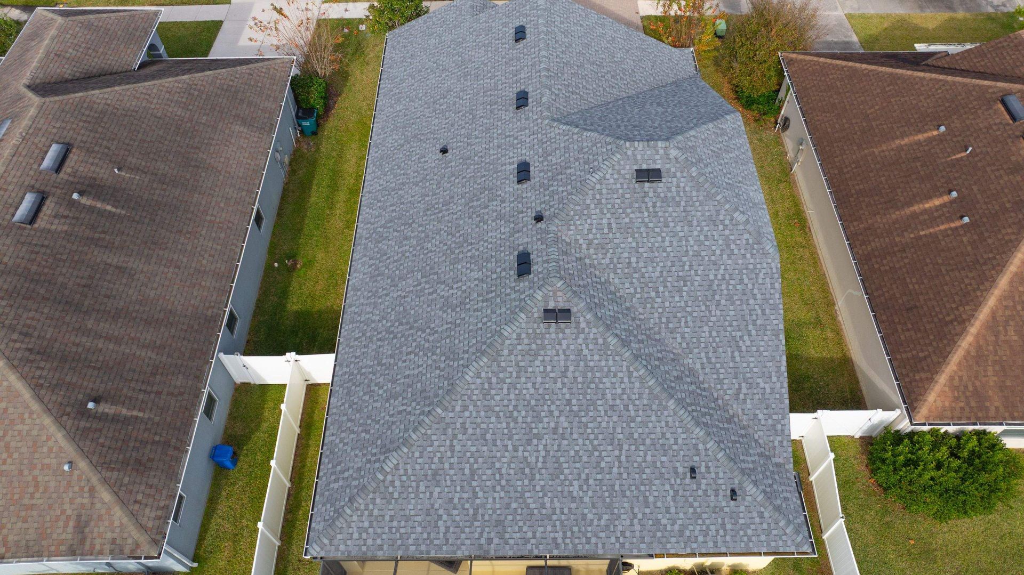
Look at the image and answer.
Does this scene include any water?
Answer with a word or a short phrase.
No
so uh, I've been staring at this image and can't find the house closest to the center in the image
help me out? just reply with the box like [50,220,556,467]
[304,0,814,575]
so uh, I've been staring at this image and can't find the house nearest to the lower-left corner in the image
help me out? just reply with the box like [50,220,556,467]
[0,6,300,573]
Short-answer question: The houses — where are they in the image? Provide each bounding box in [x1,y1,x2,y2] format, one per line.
[0,6,300,573]
[773,31,1024,450]
[304,0,814,575]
